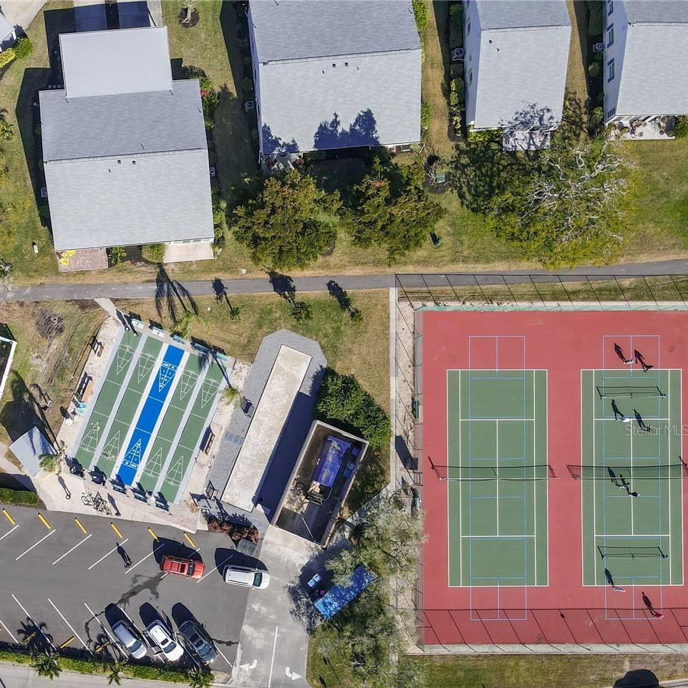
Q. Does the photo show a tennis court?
Yes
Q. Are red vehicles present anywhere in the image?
Yes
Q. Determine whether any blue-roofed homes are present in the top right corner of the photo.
No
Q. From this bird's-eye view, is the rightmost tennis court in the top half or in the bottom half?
bottom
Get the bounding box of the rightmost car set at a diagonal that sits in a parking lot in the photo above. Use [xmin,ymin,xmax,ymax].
[179,622,219,665]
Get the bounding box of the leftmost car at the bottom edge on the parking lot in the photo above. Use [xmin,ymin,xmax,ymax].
[111,620,149,661]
